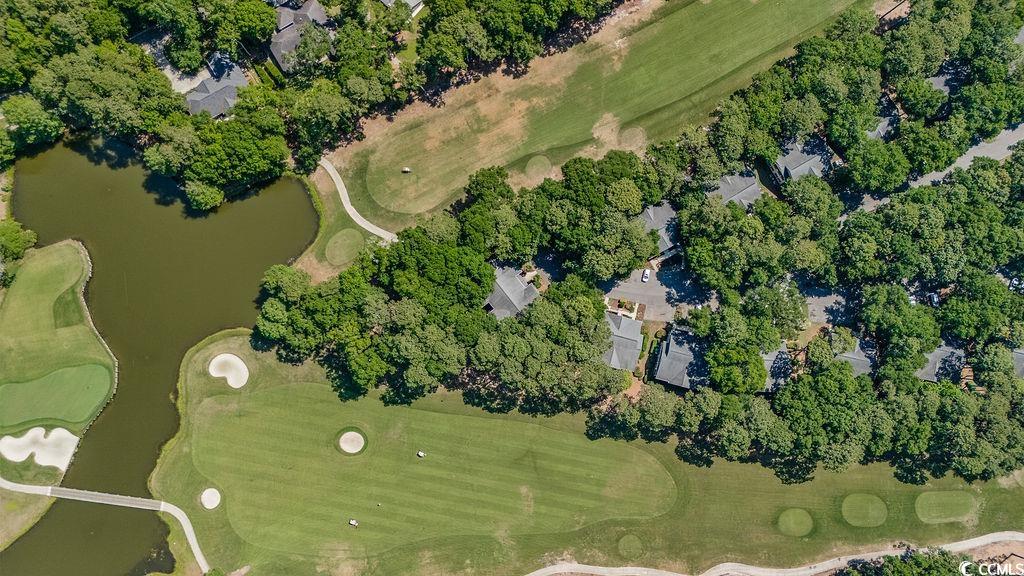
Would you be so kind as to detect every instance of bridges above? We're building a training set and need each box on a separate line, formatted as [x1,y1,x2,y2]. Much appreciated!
[47,486,164,512]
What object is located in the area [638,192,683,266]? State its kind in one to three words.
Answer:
house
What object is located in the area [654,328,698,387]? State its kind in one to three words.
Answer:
house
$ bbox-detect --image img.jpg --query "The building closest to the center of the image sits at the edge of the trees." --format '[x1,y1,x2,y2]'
[479,264,553,322]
